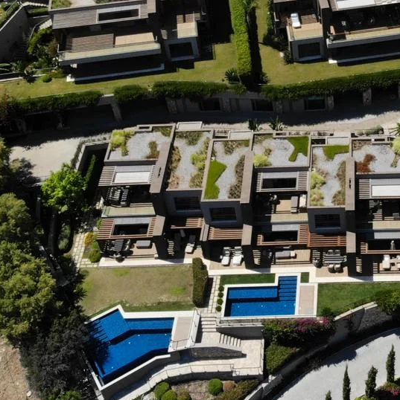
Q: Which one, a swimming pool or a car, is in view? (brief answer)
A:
swimming pool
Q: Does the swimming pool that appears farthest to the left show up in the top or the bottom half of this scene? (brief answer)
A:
bottom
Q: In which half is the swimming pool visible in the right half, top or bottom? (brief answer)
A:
bottom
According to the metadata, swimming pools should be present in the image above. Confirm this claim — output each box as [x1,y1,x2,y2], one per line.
[87,305,198,395]
[221,273,317,331]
